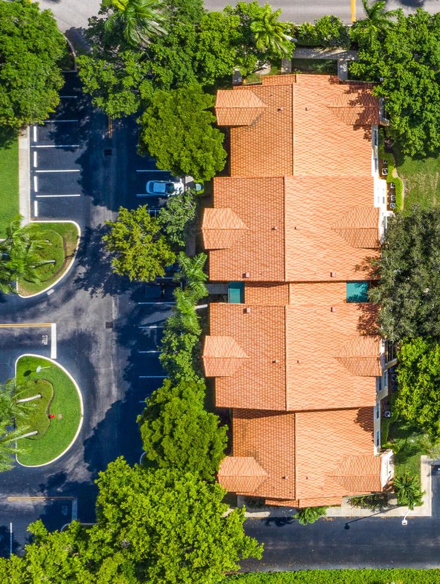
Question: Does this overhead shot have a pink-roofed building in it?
No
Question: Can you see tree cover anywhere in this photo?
Yes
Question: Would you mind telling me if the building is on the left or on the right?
right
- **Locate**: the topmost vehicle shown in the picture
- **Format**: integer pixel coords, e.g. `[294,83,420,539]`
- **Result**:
[146,179,185,197]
